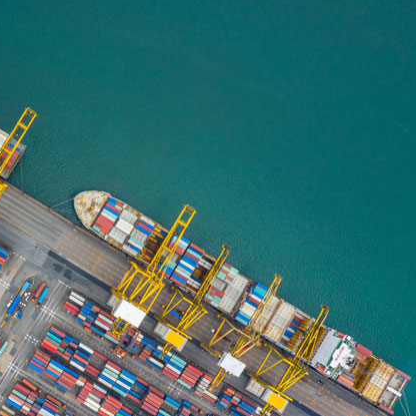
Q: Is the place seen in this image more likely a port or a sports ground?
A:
port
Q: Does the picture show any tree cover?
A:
No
